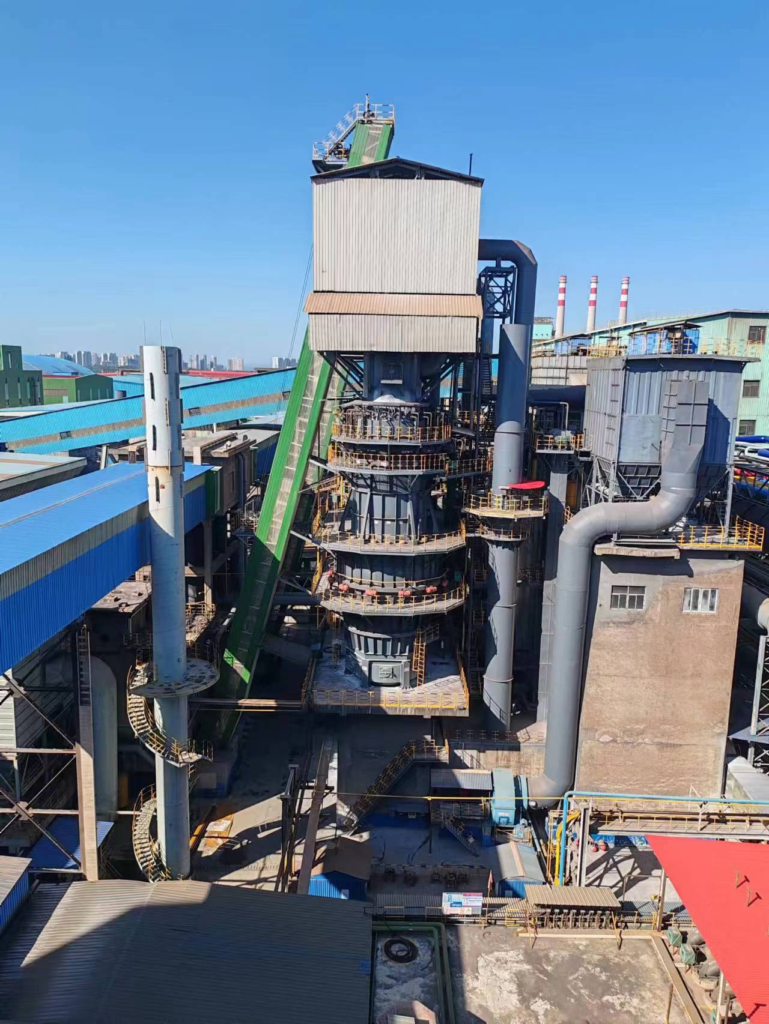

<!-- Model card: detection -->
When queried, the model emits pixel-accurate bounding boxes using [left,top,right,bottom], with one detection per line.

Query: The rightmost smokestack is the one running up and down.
[616,277,630,328]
